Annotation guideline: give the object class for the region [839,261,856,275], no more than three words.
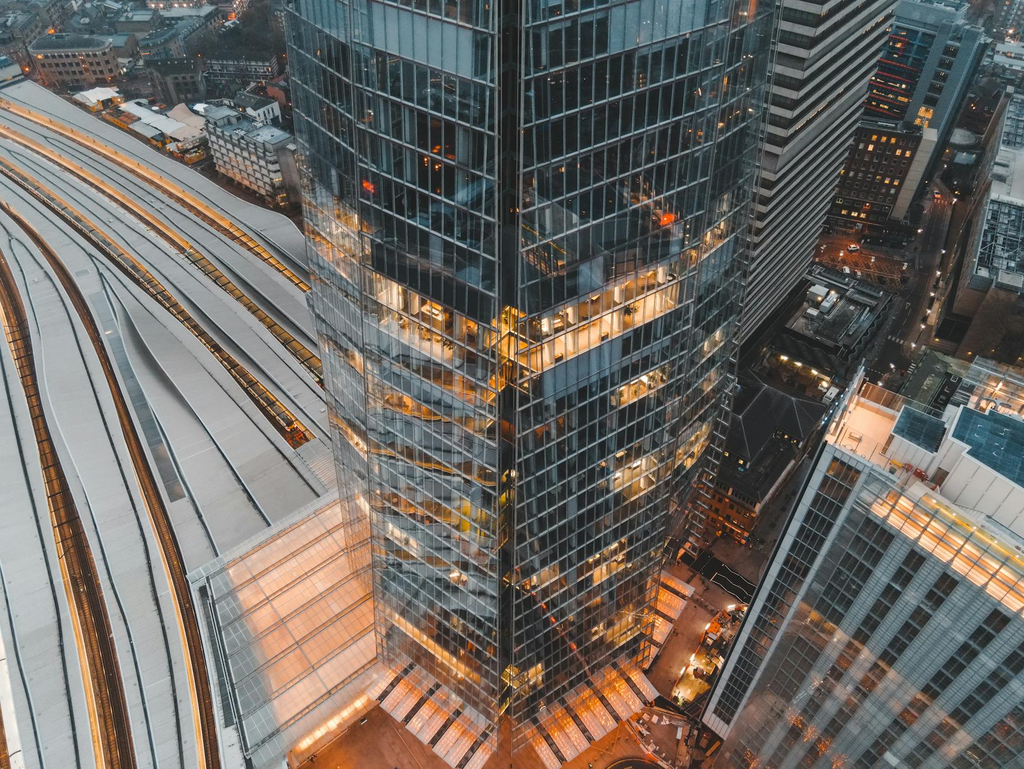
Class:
vehicle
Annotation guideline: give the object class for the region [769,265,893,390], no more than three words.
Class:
building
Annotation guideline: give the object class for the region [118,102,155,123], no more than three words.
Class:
tent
